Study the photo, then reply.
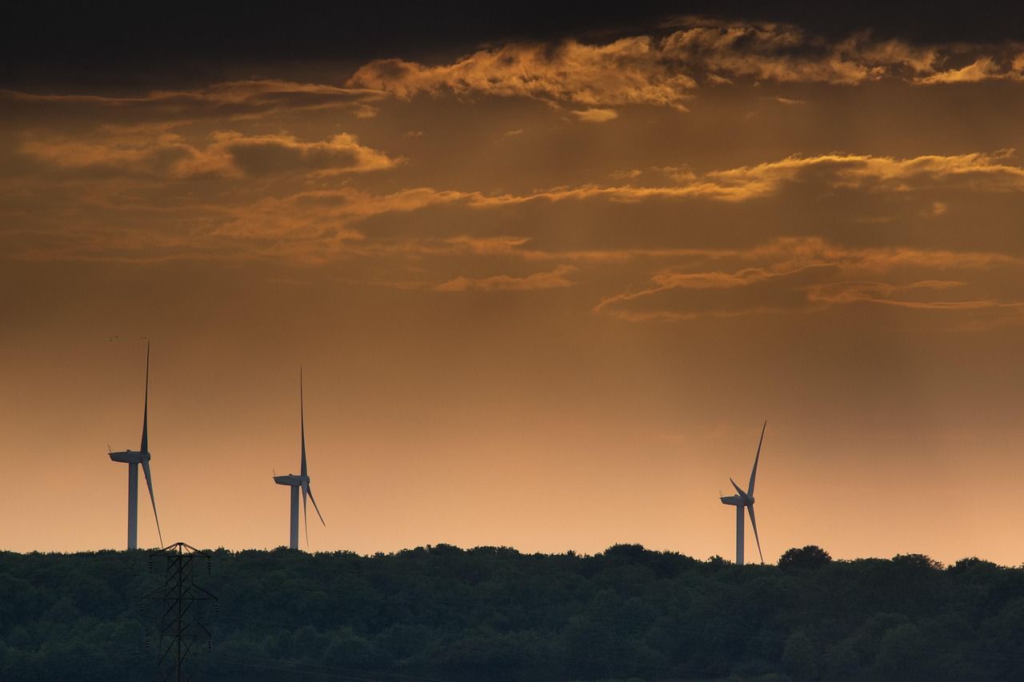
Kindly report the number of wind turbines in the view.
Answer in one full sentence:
The picture shows 3 wind turbines.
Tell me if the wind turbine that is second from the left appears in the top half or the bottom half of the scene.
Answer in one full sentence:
The bottom half of the photo is where the wind turbine that is second from the left is.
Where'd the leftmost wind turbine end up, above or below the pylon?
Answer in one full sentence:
In the image, the leftmost wind turbine sits above the pylon.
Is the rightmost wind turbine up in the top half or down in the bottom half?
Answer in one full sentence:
The bottom half of the photo is where the rightmost wind turbine is.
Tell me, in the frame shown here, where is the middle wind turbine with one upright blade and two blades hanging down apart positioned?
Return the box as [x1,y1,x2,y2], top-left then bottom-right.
[271,367,325,549]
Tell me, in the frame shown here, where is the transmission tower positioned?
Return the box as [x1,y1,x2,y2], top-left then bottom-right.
[137,543,221,682]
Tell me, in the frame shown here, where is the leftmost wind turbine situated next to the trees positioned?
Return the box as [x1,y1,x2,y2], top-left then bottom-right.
[108,345,166,551]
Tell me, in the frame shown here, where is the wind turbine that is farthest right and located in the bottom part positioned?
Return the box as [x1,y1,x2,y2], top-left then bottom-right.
[718,423,767,567]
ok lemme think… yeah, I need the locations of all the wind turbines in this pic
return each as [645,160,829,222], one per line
[718,423,767,567]
[108,345,166,551]
[271,367,325,549]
